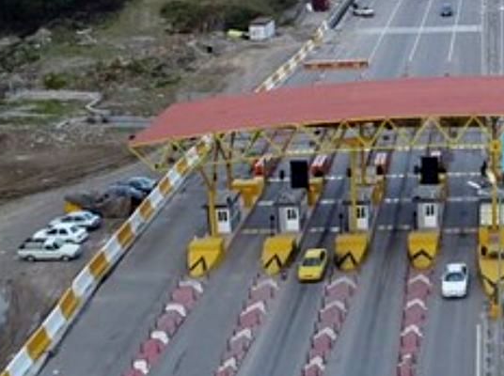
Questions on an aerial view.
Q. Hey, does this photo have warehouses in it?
No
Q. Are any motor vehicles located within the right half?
Yes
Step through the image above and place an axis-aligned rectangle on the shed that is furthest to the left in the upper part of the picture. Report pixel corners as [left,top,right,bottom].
[248,19,277,40]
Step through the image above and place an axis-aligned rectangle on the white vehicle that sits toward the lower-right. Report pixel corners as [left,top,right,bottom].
[439,268,469,303]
